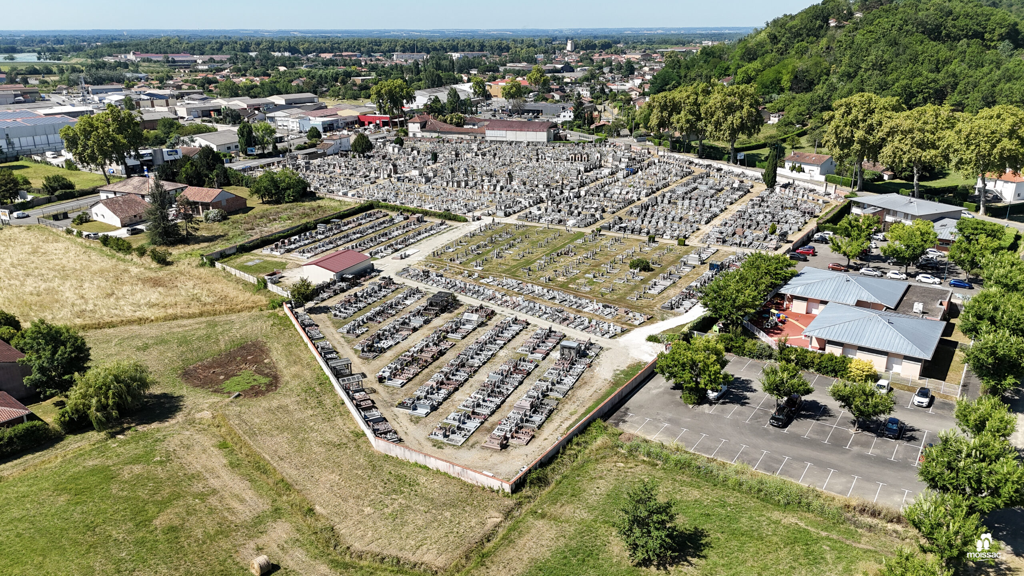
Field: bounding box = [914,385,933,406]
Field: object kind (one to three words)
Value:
car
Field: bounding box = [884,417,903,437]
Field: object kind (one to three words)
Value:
car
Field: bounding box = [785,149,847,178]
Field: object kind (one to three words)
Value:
house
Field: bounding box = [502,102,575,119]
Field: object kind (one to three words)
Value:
building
